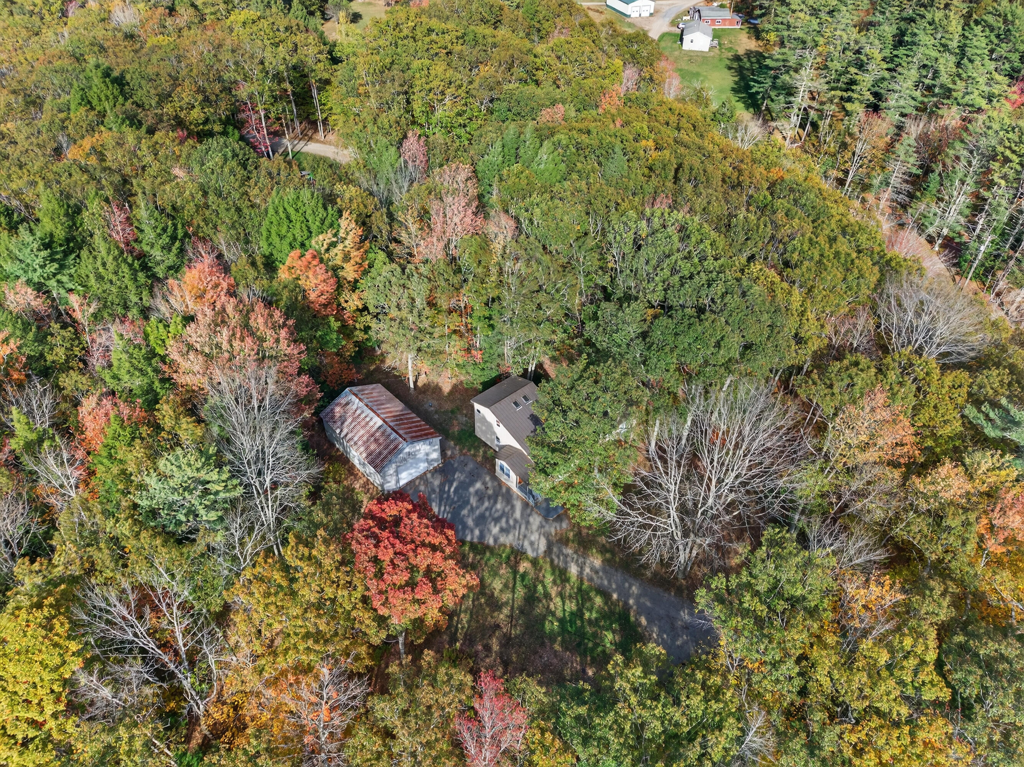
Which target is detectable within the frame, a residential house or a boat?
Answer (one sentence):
Looking from above, you can make out a residential house.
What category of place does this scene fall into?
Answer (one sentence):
What you see here is a forest.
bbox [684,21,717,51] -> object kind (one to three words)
house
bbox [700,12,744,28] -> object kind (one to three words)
barn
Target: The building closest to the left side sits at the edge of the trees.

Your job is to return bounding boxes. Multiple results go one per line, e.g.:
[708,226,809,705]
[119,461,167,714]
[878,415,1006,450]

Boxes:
[320,384,441,492]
